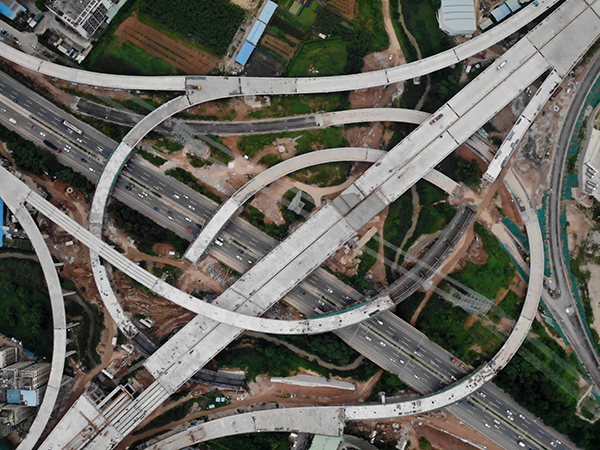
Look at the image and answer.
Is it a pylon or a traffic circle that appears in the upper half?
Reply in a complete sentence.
The feature located in the upper half is a pylon.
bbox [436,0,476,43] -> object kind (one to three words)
building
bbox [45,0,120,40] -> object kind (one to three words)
building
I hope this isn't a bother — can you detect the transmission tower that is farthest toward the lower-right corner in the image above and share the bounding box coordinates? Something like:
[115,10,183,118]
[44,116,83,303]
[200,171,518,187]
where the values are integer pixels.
[435,278,492,318]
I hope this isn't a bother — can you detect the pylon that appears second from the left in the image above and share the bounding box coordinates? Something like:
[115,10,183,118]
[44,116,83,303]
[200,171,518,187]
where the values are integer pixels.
[285,190,308,216]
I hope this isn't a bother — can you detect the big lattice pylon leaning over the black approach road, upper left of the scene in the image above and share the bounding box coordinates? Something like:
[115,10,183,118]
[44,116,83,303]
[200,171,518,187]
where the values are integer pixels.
[173,118,218,161]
